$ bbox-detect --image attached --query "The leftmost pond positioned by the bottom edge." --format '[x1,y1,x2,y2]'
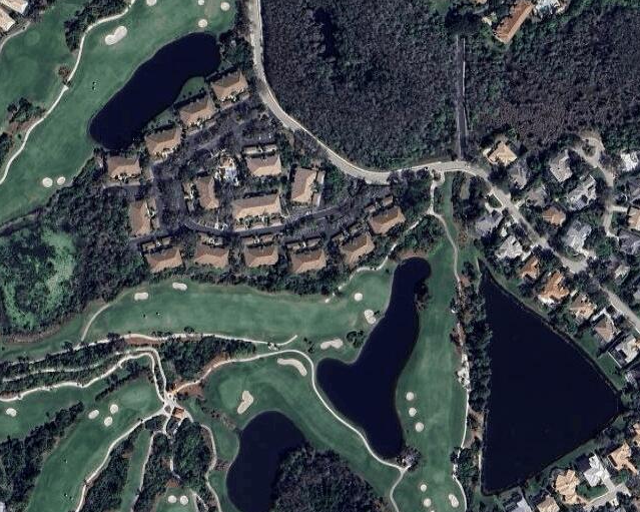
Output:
[227,411,307,512]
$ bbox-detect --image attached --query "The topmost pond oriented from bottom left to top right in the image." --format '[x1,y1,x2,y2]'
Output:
[90,32,221,149]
